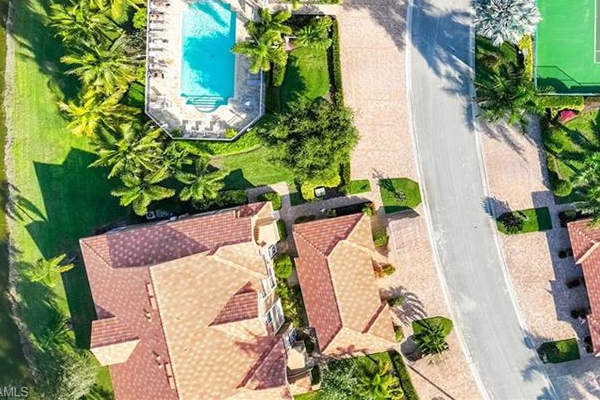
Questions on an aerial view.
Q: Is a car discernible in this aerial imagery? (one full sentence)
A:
No, the photo shows no car.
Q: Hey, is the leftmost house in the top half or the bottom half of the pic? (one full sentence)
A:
It is in the bottom half that the leftmost house appears.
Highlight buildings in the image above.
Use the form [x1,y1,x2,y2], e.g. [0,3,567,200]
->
[78,196,317,400]
[290,213,399,356]
[567,218,600,356]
